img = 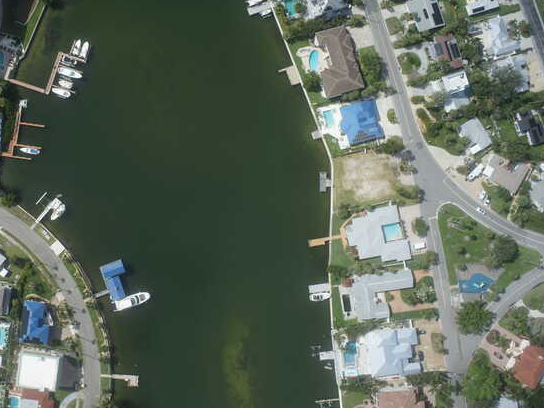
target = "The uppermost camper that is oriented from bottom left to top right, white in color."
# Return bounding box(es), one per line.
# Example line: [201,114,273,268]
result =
[467,165,483,181]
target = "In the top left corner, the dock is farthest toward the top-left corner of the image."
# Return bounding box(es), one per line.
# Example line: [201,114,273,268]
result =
[7,39,88,95]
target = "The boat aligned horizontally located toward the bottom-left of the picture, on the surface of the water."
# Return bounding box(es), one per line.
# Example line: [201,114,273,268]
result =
[112,295,150,310]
